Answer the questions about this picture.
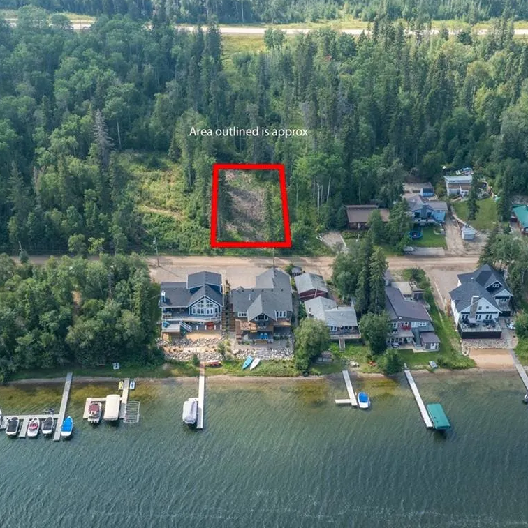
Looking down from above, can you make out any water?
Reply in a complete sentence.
Yes, water shows up in the scene.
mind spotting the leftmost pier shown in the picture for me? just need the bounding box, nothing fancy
[0,372,74,443]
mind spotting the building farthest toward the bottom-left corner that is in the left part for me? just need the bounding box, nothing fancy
[160,267,225,348]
